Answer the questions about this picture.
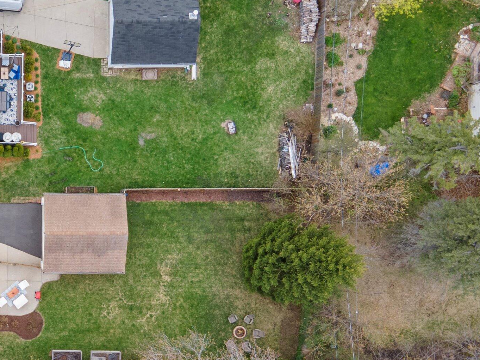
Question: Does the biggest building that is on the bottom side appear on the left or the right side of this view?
left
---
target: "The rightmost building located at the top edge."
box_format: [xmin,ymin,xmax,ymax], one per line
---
[106,0,200,89]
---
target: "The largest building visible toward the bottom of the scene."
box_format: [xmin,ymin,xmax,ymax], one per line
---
[41,192,128,274]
